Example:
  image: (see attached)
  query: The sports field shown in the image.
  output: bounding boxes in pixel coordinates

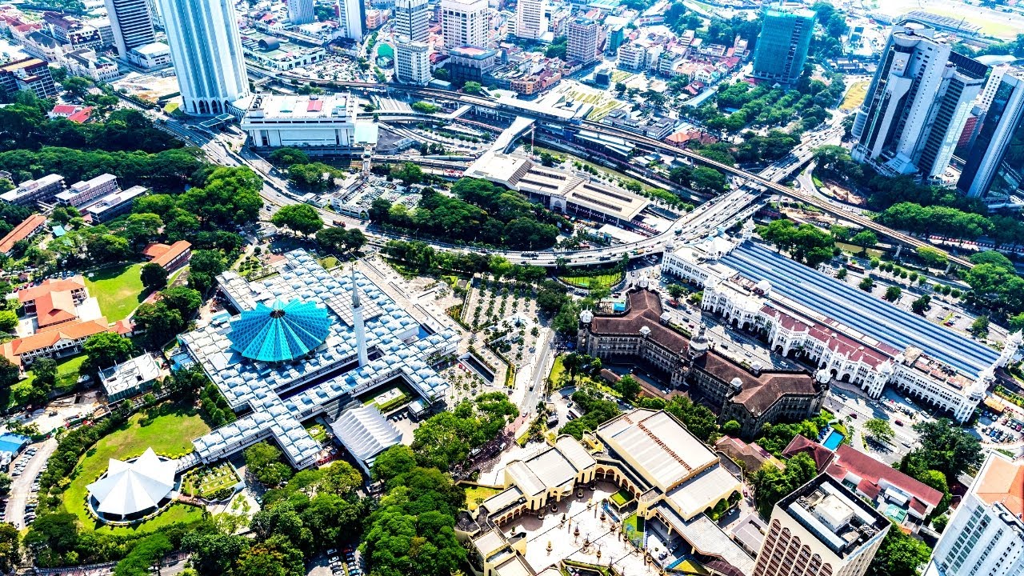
[887,6,1024,34]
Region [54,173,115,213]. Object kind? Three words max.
building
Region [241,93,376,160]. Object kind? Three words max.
building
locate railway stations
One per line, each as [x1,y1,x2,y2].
[660,212,1024,423]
